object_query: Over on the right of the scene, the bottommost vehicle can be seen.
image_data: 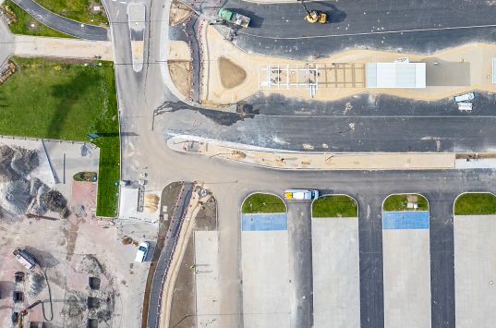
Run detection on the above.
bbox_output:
[285,188,318,202]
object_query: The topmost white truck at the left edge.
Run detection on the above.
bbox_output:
[9,249,34,271]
